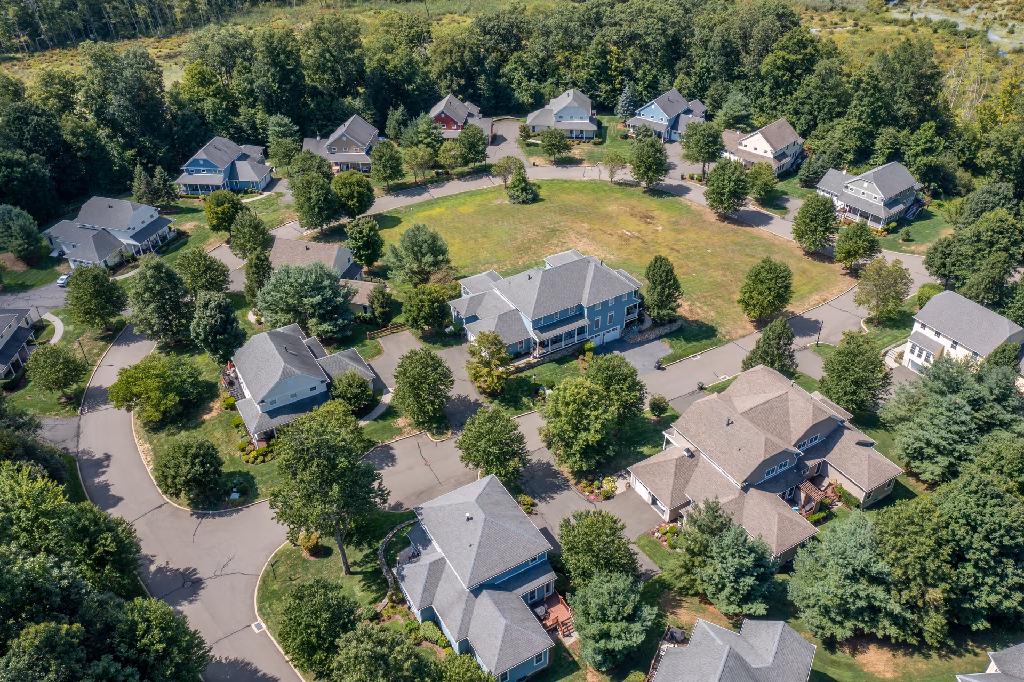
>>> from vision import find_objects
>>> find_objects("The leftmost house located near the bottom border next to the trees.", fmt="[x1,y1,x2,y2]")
[392,474,576,682]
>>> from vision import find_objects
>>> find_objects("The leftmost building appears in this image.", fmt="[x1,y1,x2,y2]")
[0,306,40,386]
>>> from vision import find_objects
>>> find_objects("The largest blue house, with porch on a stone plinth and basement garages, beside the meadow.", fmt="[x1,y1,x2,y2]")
[451,249,647,365]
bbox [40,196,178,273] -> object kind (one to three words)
house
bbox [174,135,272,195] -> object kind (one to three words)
house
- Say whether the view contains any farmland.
No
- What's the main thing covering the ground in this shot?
trees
